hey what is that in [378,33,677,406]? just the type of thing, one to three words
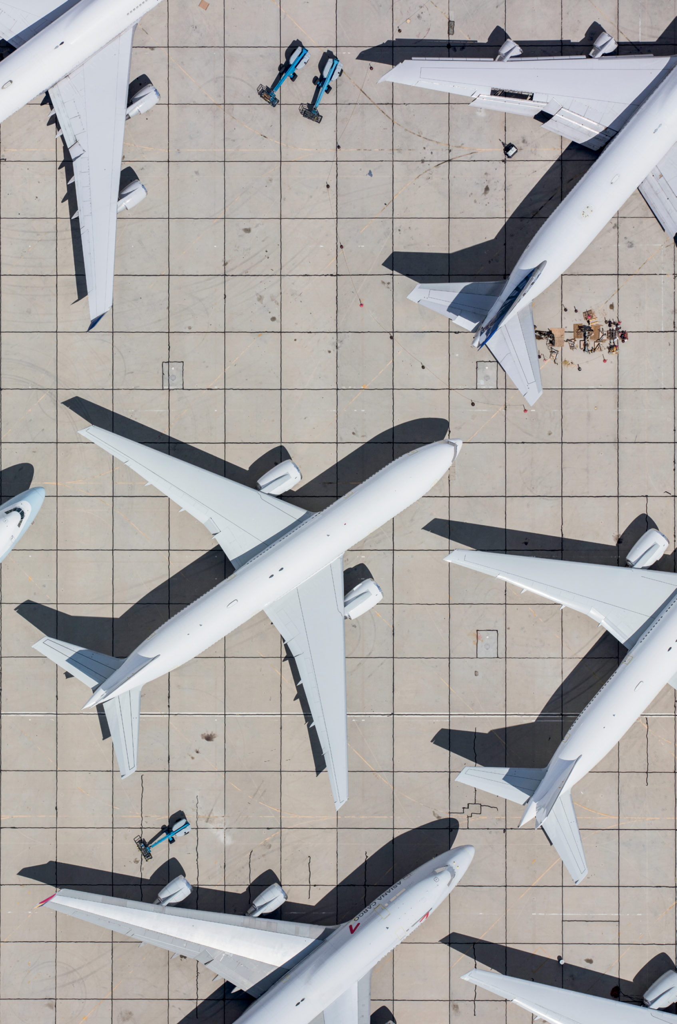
airplane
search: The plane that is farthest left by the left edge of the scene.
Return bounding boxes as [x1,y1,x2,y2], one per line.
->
[0,488,45,562]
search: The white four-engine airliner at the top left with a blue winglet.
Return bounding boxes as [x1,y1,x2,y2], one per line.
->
[0,0,162,332]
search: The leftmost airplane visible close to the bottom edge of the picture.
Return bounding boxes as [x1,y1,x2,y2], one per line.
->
[33,845,474,1024]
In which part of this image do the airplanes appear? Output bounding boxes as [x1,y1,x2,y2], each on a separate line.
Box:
[31,425,463,810]
[461,969,677,1024]
[378,33,677,406]
[0,488,45,562]
[33,845,474,1024]
[0,0,162,332]
[443,530,677,885]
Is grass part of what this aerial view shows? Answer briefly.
No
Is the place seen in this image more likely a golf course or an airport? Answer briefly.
airport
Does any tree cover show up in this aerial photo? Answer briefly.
No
